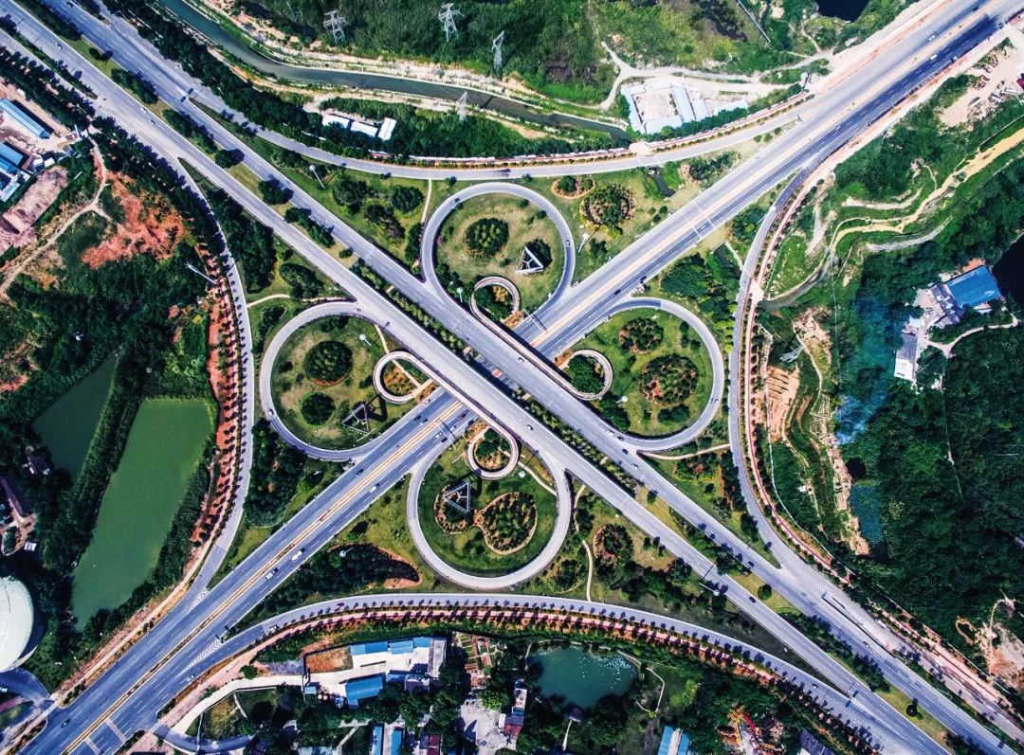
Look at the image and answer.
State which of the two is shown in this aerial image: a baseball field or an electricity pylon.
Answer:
electricity pylon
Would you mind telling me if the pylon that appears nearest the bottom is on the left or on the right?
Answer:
right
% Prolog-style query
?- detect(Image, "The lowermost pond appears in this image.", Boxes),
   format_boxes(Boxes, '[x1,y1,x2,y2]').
[529,646,635,708]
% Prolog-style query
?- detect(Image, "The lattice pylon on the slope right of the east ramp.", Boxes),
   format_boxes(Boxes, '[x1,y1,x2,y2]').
[777,341,815,363]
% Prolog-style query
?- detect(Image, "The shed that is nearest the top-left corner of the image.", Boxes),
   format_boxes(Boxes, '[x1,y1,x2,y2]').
[2,98,54,142]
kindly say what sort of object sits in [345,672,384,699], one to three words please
building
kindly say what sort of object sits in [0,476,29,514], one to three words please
house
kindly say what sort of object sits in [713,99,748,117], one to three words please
building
